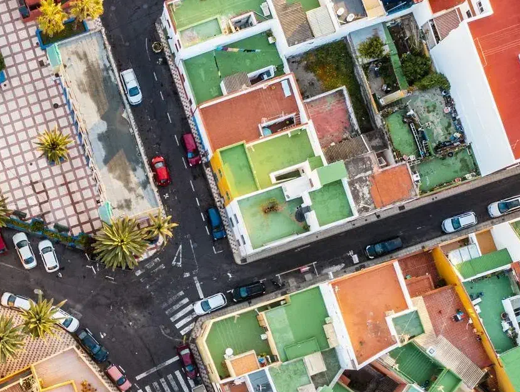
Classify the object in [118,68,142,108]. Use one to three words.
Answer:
car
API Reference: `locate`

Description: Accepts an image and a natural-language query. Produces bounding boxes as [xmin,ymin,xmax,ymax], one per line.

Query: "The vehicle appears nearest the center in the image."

[203,204,227,243]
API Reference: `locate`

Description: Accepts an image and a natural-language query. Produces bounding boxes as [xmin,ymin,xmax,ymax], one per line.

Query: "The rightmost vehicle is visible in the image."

[485,194,520,218]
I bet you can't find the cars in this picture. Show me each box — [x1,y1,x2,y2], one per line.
[36,239,61,275]
[48,305,82,333]
[485,194,520,218]
[227,280,267,302]
[77,328,107,363]
[203,204,227,243]
[176,343,199,380]
[118,68,142,108]
[179,132,203,170]
[362,235,403,259]
[190,291,230,316]
[150,154,170,190]
[13,233,37,269]
[101,357,134,392]
[438,212,477,234]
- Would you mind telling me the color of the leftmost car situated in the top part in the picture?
white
